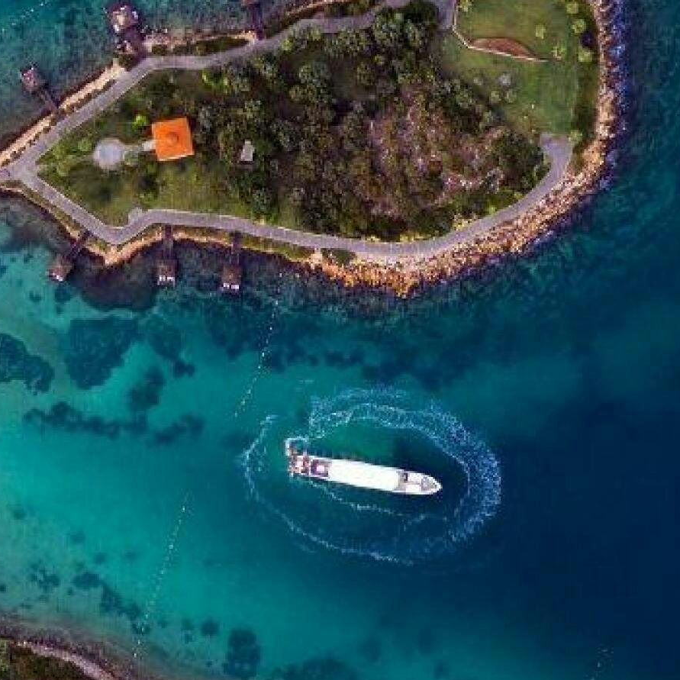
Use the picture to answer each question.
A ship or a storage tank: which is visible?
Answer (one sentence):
Looking from above, you can make out a ship.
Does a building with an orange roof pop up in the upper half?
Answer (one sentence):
Yes, in the upper half there is a building with an orange roof.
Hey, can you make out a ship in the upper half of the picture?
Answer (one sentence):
No, no ship is visible in the upper half of the picture.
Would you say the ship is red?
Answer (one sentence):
No, the ship is white.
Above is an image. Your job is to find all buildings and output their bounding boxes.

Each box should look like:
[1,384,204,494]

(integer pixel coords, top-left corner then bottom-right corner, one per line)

[149,117,194,163]
[240,143,252,163]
